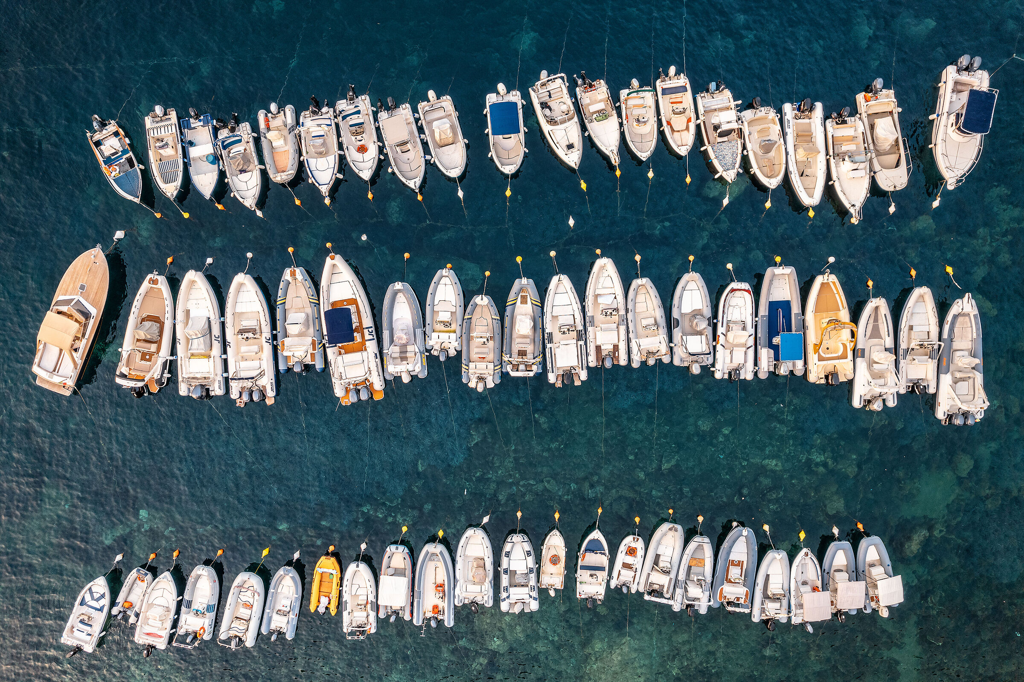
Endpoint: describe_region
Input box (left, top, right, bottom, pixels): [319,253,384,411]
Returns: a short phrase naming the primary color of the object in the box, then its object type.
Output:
white boat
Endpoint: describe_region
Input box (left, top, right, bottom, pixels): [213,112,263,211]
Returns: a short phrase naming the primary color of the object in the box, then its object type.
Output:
white boat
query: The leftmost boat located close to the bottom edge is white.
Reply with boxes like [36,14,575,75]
[62,576,113,660]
